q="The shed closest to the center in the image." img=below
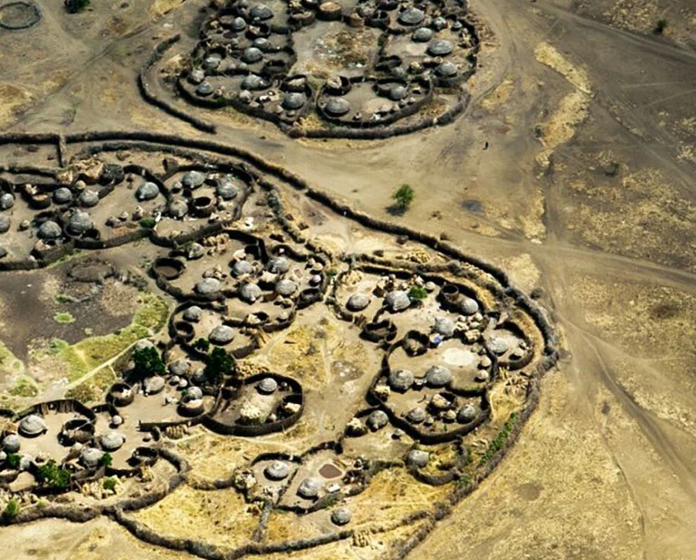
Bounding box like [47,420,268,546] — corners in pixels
[346,296,371,315]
